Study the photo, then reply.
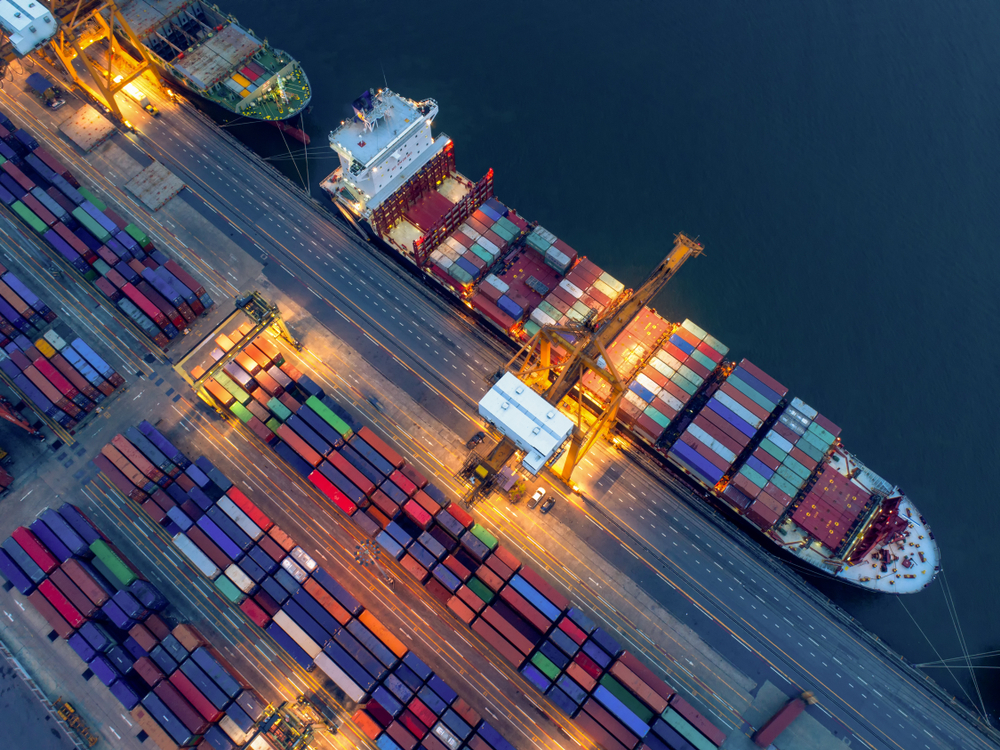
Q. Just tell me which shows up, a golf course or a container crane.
container crane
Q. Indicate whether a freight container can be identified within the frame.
Yes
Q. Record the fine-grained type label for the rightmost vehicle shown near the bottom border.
truck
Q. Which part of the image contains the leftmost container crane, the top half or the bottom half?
top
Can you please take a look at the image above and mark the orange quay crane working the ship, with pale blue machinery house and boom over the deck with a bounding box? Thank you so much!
[443,224,709,520]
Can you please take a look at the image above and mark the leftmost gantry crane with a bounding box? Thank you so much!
[0,0,174,128]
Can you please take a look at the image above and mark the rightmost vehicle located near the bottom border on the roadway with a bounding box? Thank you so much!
[755,687,819,748]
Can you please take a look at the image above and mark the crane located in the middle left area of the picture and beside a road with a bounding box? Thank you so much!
[168,289,306,422]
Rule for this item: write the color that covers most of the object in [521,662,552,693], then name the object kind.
blue shipping container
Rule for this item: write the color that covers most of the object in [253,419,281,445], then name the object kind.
red shipping container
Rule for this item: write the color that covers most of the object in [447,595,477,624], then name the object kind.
red shipping container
